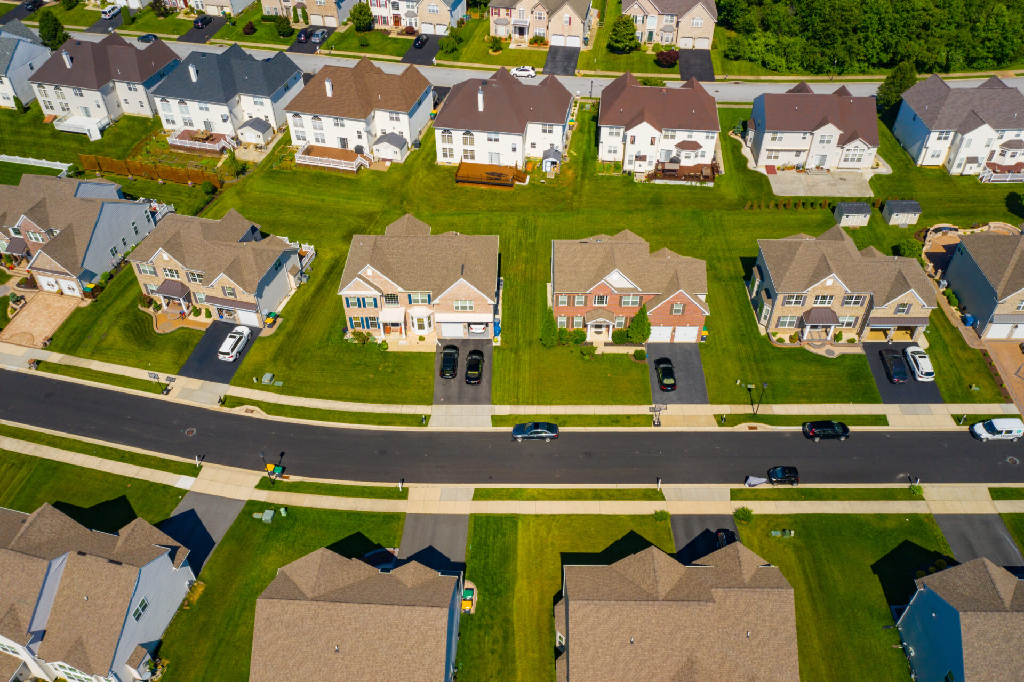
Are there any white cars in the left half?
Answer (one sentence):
Yes, a white car is visible in the left half.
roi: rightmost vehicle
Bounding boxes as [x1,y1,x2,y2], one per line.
[970,419,1024,444]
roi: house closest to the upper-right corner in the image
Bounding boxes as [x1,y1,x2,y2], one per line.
[892,73,1024,175]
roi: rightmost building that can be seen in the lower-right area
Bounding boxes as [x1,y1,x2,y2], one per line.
[895,551,1024,682]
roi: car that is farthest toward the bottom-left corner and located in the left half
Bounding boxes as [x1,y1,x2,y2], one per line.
[218,327,251,361]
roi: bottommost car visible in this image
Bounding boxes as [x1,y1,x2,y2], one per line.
[714,519,747,550]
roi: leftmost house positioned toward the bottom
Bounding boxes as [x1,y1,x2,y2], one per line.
[0,498,200,682]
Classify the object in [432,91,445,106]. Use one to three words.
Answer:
vehicle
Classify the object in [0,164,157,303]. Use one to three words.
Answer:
house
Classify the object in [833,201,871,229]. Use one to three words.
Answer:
shed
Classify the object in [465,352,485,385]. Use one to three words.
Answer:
car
